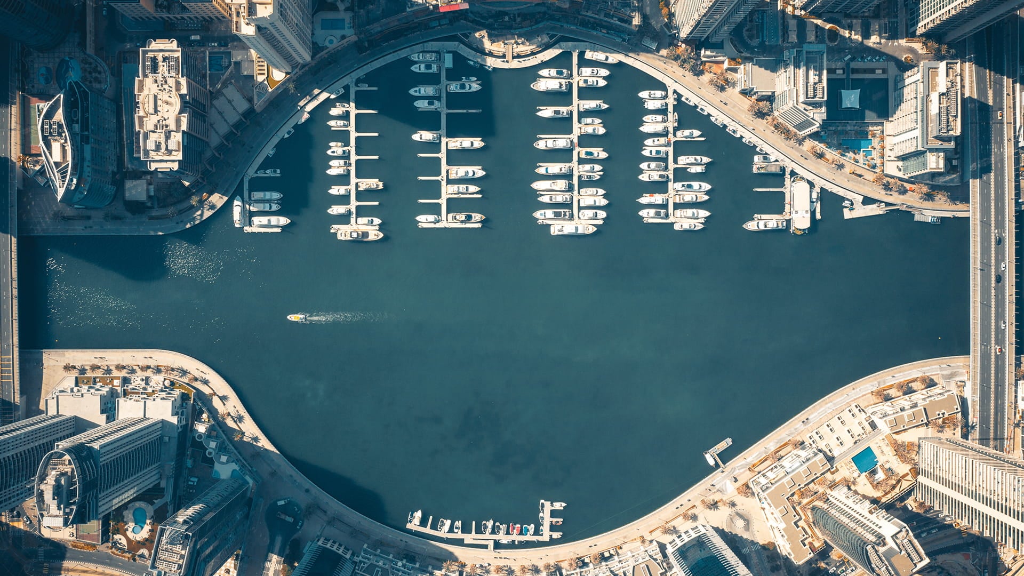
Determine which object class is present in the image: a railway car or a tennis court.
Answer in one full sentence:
Visible in the photo is a tennis court.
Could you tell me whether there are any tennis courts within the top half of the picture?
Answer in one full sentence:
Yes, you'll find a tennis court within the top half of the picture.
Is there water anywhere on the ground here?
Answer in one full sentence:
Yes, there's water in this view.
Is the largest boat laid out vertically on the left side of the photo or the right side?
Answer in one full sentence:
You can find the largest boat laid out vertically on the right side of the picture.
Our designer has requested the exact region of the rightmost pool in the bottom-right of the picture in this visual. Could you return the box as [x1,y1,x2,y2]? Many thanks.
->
[850,444,880,476]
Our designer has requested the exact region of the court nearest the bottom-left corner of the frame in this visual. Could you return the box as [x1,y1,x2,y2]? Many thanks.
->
[75,518,104,544]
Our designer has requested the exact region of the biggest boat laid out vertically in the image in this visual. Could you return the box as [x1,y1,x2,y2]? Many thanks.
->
[789,177,810,235]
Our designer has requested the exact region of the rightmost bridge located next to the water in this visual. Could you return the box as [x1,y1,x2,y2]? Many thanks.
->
[968,19,1018,576]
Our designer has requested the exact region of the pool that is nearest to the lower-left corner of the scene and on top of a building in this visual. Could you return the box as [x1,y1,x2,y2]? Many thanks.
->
[132,507,147,534]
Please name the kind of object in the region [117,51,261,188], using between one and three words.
building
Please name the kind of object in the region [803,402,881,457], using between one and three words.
building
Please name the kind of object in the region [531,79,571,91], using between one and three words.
boat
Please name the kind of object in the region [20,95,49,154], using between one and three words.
tennis court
